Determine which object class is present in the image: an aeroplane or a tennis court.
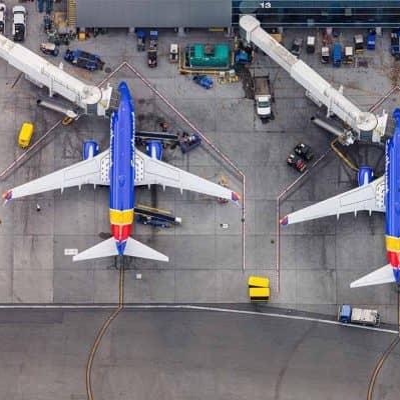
aeroplane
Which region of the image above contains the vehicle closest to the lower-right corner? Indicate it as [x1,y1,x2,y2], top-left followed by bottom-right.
[339,305,383,327]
